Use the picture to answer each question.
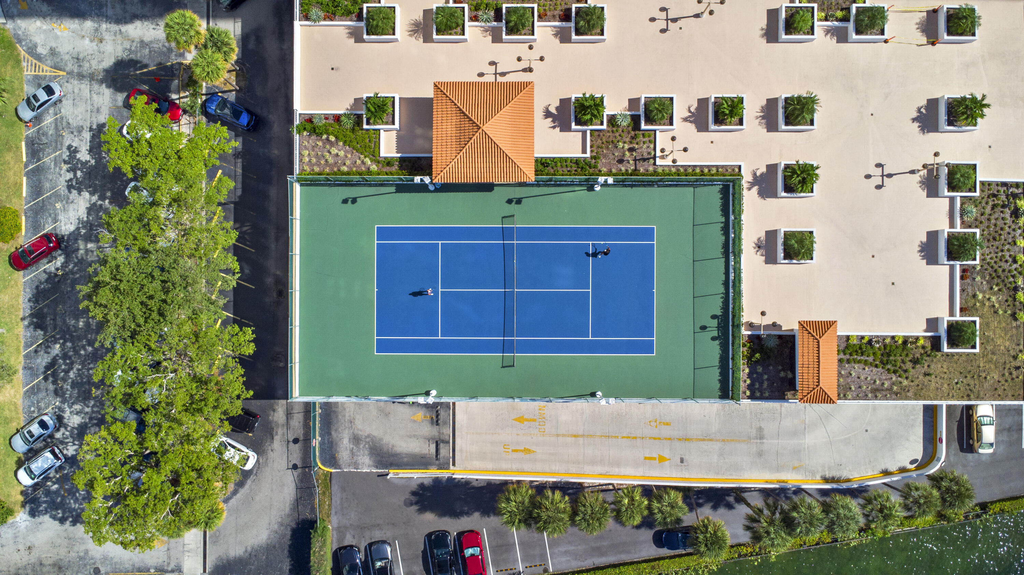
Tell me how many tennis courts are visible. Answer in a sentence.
The photo contains exactly 1 tennis court.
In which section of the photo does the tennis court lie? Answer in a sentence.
You can find the tennis court in the center area of the picture.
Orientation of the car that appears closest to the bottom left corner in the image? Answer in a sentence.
What the image shows is the car that appears closest to the bottom left corner lying on a diagonal.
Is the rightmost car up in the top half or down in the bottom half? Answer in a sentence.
It is in the bottom half that the rightmost car appears.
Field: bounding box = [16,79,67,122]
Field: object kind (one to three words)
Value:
car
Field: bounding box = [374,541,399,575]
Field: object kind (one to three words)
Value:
car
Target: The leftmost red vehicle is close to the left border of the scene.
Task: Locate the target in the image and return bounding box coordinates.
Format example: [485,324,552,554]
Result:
[10,231,62,271]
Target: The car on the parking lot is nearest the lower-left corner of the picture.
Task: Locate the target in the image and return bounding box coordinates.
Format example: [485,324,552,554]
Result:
[16,445,67,488]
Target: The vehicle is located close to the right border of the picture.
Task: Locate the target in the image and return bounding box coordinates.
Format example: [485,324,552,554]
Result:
[967,405,996,454]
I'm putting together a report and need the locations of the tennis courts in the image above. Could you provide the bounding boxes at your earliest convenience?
[300,182,730,397]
